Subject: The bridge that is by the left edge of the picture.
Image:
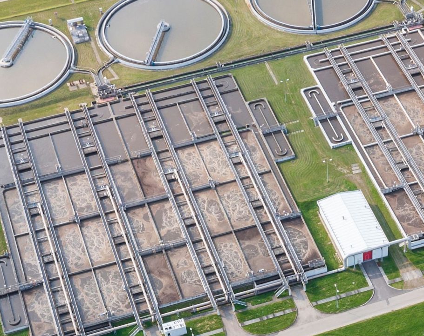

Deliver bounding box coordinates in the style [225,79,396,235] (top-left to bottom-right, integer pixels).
[0,15,36,64]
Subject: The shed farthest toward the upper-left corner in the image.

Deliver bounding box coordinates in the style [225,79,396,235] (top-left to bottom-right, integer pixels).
[65,13,90,44]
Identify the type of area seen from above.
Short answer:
industrial area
